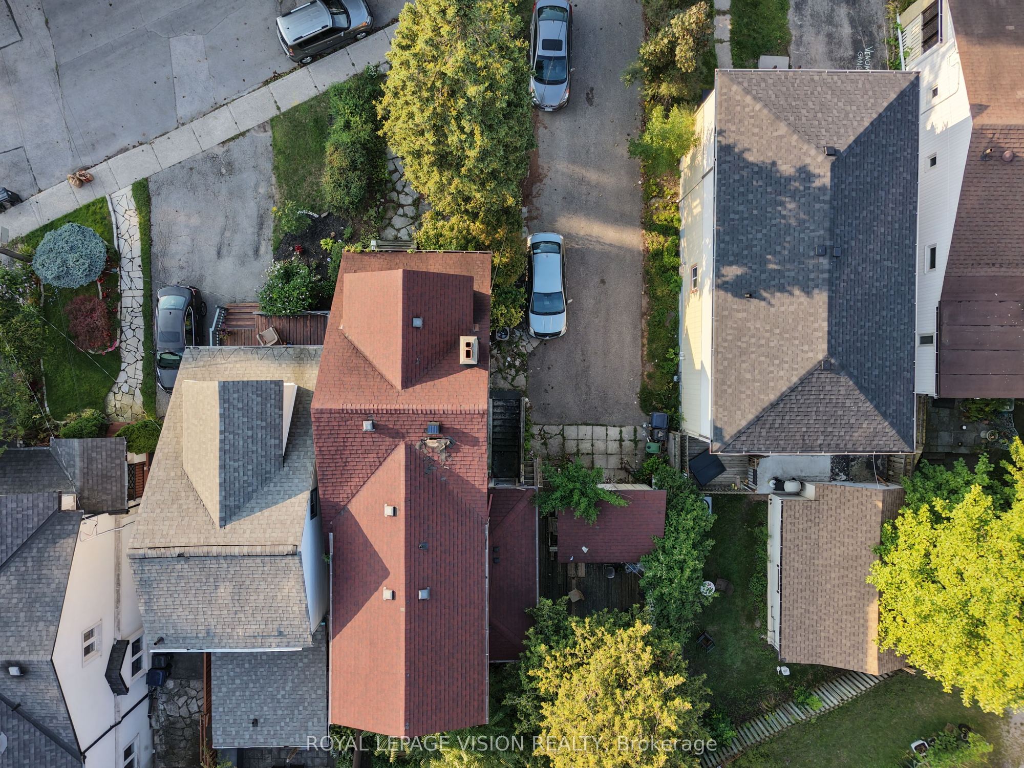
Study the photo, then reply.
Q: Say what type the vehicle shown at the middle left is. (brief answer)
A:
car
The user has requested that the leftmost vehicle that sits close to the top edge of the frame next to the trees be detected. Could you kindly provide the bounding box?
[271,0,375,66]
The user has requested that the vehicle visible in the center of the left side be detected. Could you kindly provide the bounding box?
[150,284,208,393]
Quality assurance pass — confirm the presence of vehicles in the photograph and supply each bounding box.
[525,233,572,340]
[150,284,208,393]
[529,0,577,109]
[271,0,375,66]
